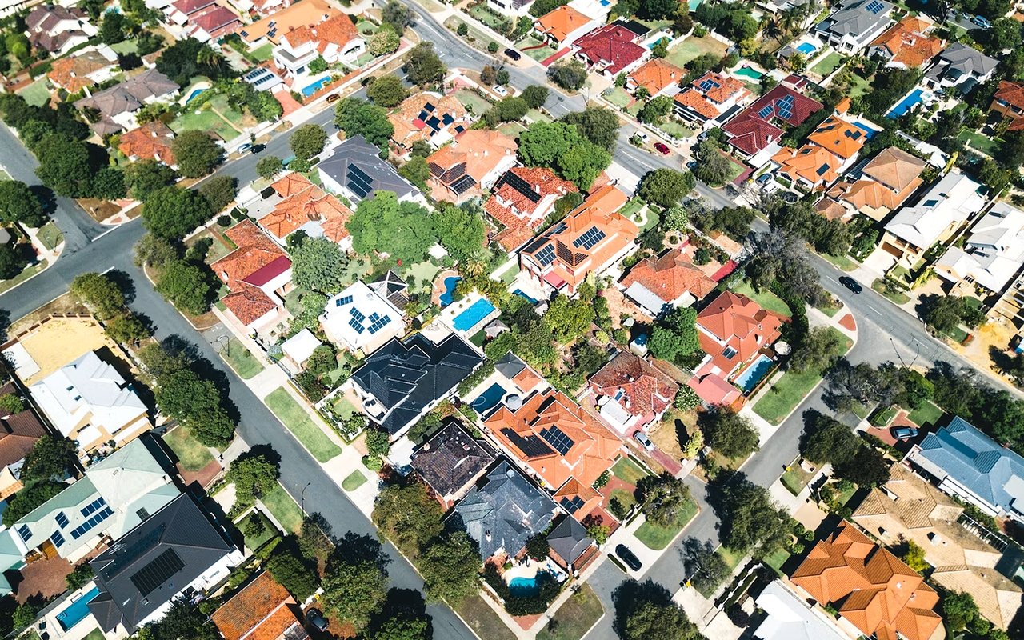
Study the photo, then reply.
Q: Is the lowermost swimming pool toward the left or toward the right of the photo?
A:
left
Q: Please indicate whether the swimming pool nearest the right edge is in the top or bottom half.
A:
top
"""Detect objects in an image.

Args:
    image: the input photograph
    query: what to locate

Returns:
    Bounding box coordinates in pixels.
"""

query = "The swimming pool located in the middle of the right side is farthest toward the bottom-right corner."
[732,350,776,393]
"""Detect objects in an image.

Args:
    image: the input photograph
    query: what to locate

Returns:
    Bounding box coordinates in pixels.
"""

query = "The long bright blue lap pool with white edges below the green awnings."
[882,86,931,121]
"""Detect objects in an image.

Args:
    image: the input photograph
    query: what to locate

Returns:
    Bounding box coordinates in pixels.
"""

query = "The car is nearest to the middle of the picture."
[631,428,659,455]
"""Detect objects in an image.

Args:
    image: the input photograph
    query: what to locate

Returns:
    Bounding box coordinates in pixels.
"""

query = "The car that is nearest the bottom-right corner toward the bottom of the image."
[890,425,923,441]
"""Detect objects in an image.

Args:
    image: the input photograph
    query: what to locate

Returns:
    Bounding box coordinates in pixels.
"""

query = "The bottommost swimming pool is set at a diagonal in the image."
[50,582,105,637]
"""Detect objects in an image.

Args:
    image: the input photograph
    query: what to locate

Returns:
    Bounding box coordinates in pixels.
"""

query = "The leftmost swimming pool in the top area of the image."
[100,3,128,16]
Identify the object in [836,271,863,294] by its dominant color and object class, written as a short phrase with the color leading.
black car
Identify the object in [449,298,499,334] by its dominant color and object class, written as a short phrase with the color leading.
blue swimming pool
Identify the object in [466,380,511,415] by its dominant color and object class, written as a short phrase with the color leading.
blue swimming pool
